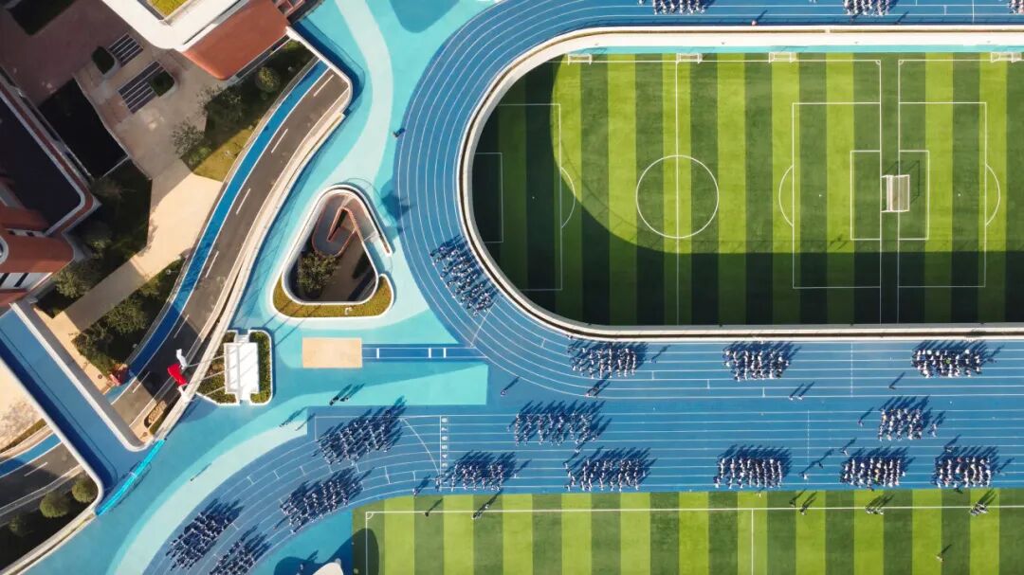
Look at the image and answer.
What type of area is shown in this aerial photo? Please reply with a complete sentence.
The area seen from above is a sports ground.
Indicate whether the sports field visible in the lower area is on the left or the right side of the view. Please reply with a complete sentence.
The sports field visible in the lower area sits on the right side.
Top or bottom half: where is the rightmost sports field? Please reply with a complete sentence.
Seen from above, the rightmost sports field lies in the top half of the view.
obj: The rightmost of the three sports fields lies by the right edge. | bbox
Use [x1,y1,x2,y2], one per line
[881,54,1024,327]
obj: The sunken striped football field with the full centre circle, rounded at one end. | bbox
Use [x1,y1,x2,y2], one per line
[472,54,881,328]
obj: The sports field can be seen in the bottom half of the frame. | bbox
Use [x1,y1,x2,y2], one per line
[352,489,1024,575]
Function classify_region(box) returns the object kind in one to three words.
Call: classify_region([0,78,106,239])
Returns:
building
